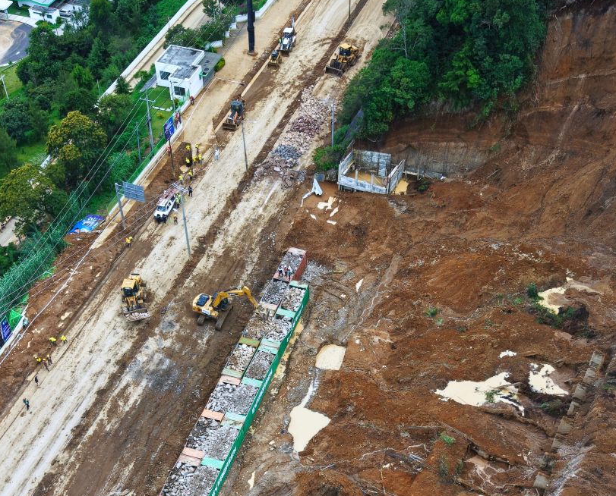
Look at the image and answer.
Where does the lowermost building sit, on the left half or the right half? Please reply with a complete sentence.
The lowermost building appears in the left half of the scene.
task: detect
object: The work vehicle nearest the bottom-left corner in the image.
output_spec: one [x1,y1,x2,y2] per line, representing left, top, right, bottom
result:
[119,272,147,323]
